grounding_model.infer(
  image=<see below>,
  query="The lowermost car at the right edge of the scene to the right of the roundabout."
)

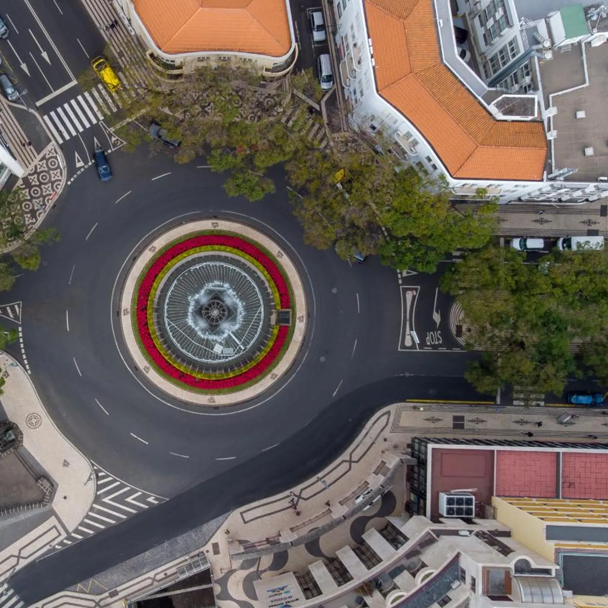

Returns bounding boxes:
[565,390,605,409]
